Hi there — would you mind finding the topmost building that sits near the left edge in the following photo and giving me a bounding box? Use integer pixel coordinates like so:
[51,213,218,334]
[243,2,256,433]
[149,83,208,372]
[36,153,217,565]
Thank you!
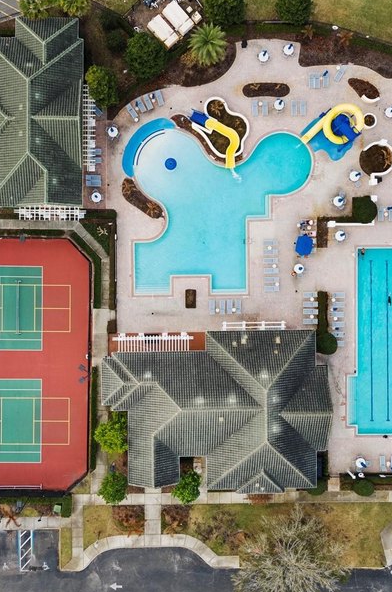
[0,17,84,207]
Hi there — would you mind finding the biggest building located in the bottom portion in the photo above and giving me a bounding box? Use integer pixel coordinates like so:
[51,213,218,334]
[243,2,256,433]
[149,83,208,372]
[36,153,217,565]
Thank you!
[102,330,335,493]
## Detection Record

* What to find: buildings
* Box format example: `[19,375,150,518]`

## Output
[102,330,335,493]
[0,17,84,207]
